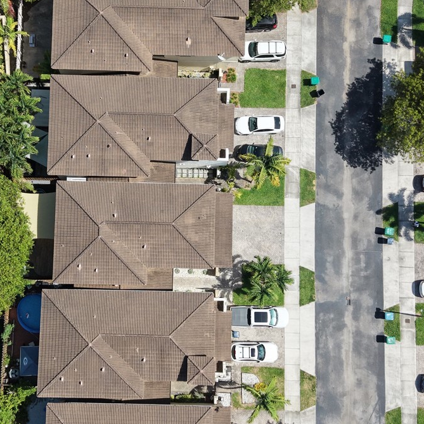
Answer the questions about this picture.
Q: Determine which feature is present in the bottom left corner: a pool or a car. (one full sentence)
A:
Visible in the bottom left corner is a pool.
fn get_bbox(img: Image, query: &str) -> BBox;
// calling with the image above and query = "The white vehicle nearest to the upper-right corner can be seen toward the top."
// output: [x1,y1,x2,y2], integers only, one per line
[239,38,287,62]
